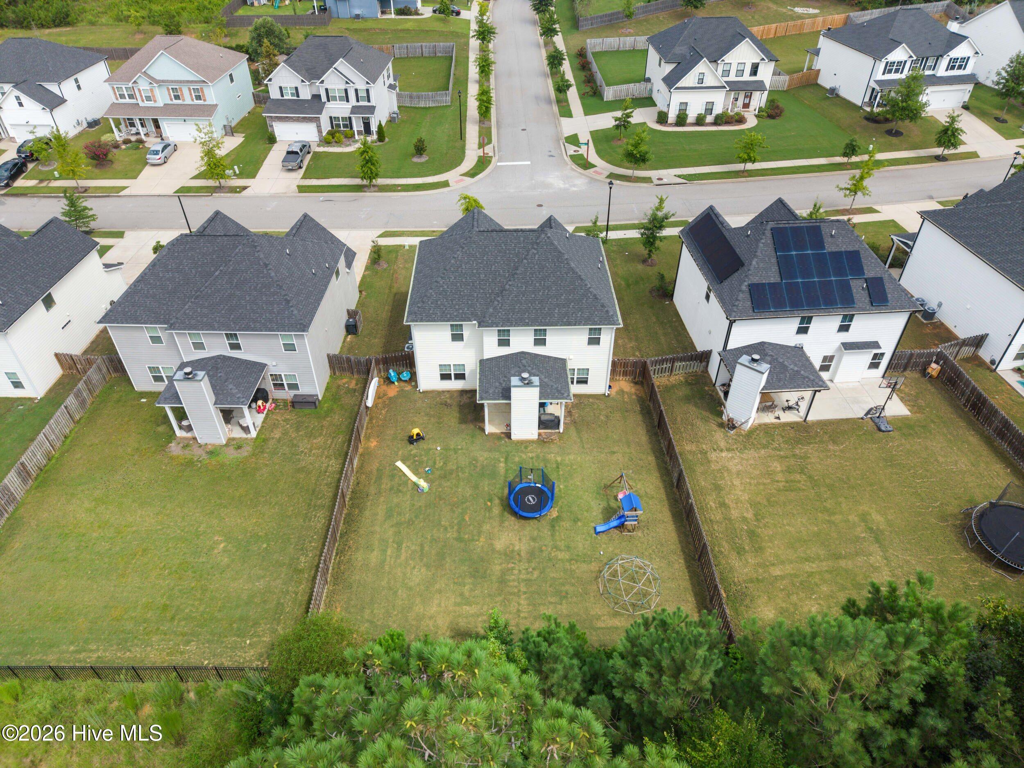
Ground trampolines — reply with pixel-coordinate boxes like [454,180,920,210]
[945,481,1024,573]
[508,465,556,524]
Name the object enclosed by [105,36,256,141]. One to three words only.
house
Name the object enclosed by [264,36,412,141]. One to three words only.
house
